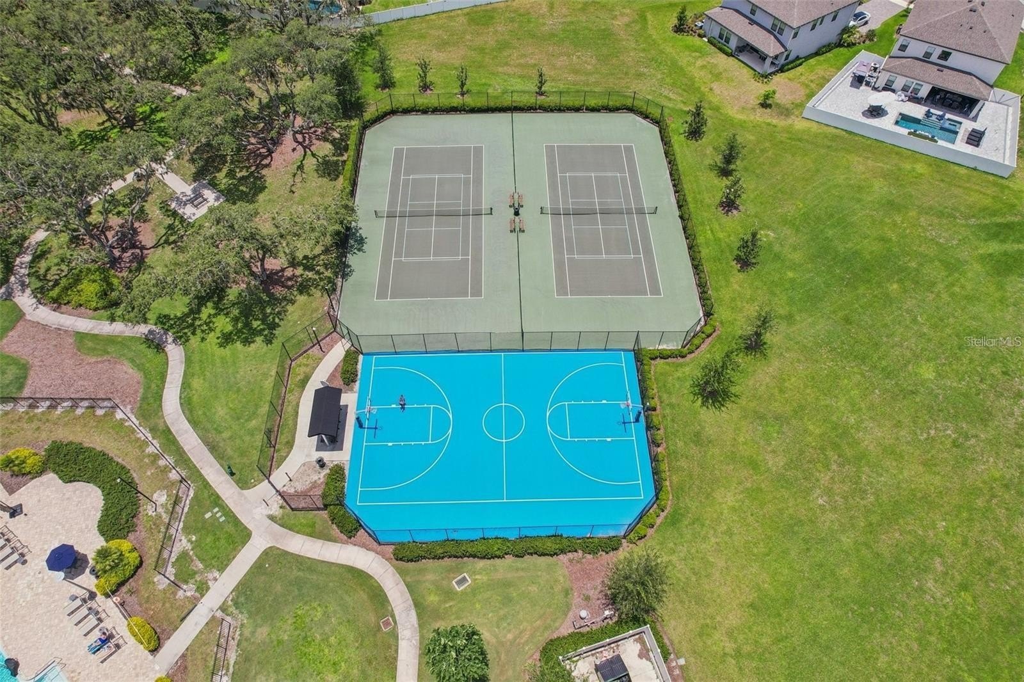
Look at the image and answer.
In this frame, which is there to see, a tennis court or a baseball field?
tennis court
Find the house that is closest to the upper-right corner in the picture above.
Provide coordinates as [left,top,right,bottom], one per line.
[876,0,1024,117]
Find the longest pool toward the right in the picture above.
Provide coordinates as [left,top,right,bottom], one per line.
[895,114,960,143]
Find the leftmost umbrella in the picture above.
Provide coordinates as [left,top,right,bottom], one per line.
[46,542,82,575]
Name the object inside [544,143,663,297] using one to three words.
tennis court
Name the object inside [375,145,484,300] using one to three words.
tennis court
